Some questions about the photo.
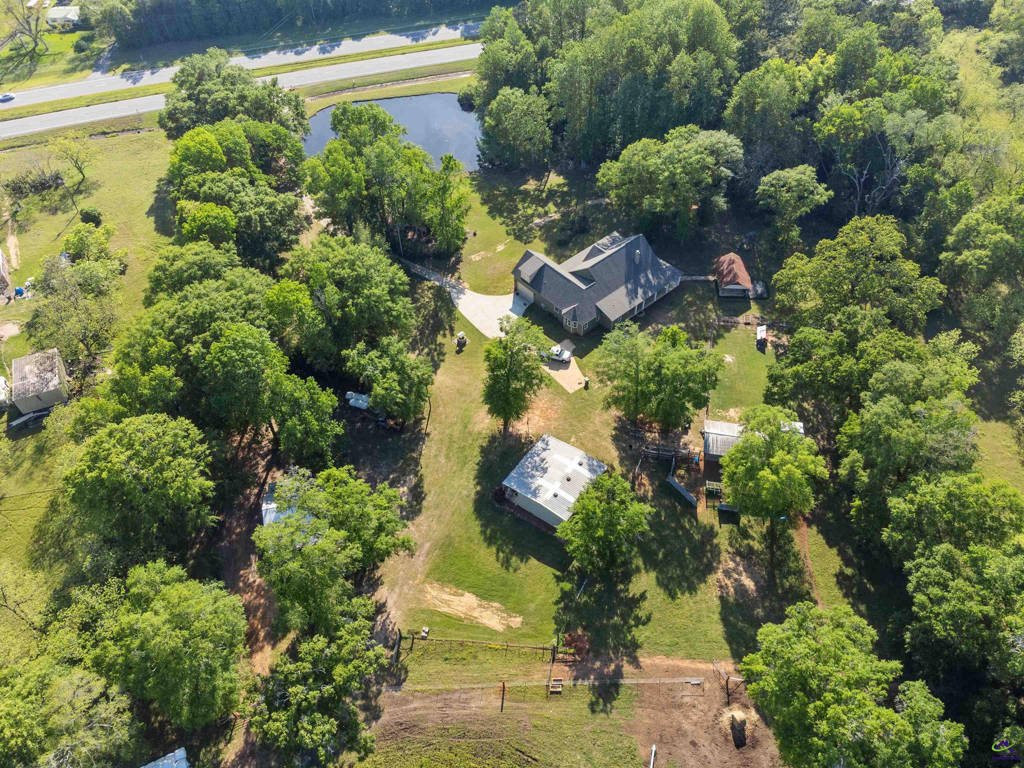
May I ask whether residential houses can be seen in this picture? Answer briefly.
Yes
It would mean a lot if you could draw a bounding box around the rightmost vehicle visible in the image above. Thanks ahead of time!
[540,346,571,362]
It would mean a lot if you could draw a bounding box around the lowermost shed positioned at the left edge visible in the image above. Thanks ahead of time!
[11,348,67,412]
